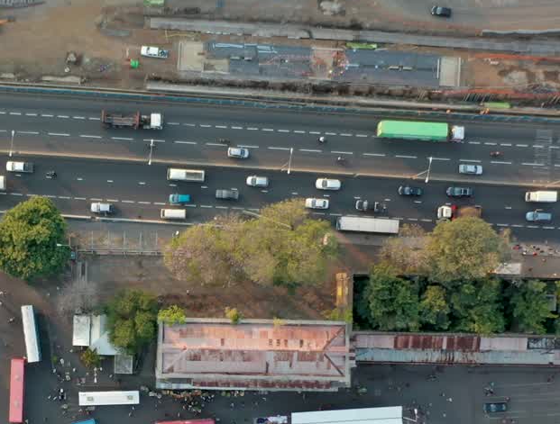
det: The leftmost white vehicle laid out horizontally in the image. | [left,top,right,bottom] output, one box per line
[6,161,35,173]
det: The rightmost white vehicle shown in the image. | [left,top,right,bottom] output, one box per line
[521,189,559,206]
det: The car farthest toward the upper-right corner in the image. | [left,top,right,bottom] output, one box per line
[426,6,453,19]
